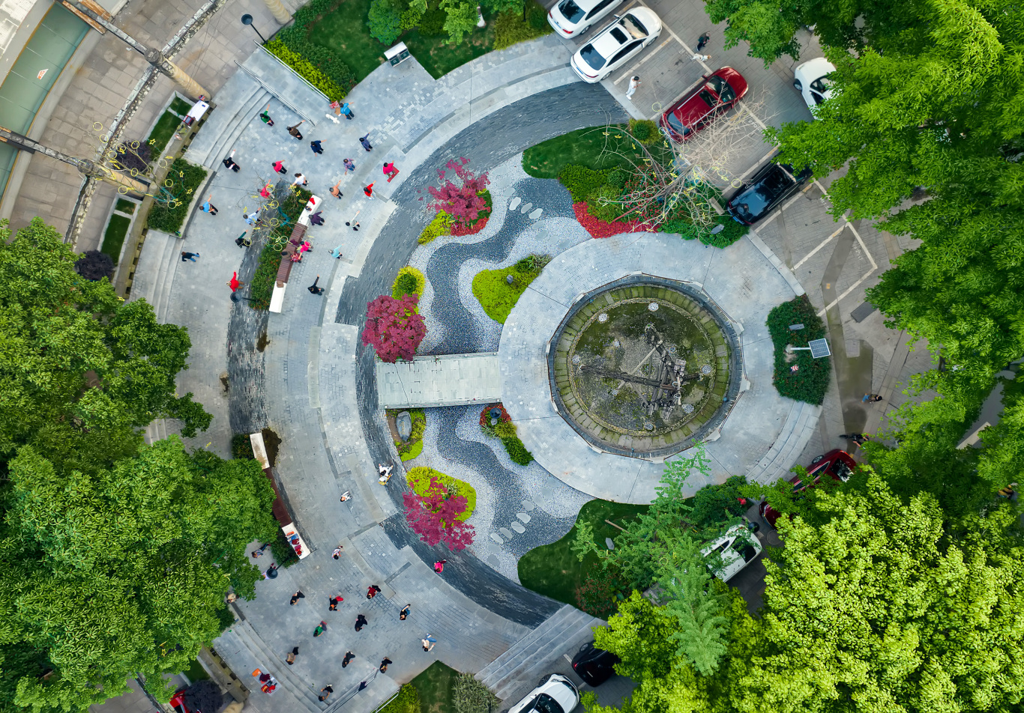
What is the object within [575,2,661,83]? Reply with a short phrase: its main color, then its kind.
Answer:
white car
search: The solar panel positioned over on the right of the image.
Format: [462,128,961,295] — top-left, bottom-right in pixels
[807,337,831,359]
